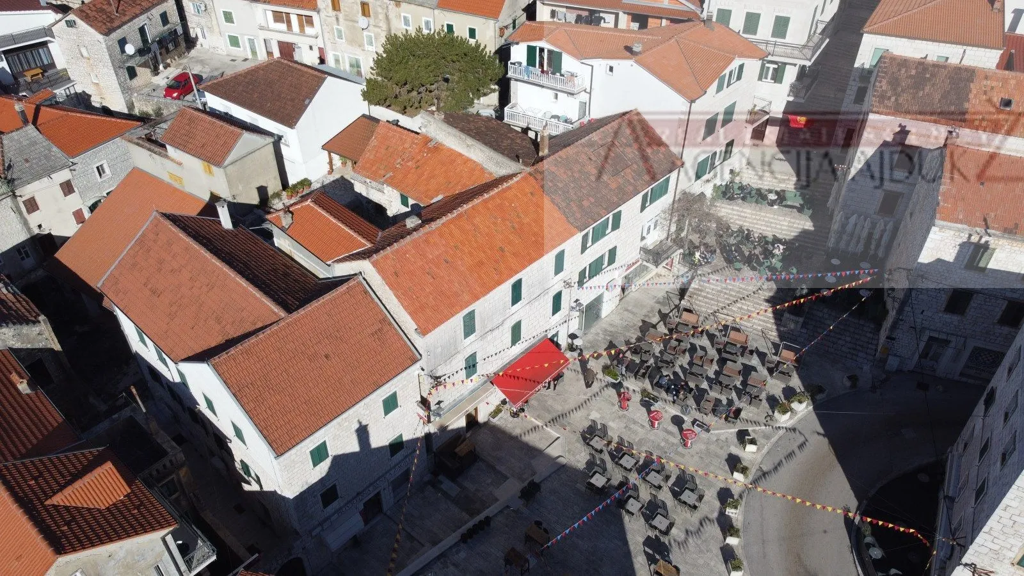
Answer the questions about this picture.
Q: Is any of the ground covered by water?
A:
No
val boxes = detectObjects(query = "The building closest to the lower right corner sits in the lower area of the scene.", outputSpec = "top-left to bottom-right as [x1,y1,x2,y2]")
[913,337,1024,576]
